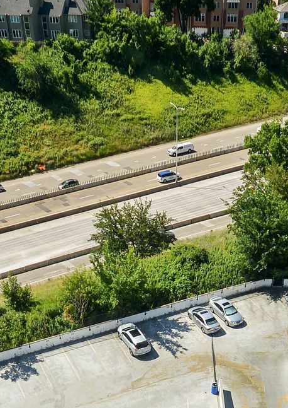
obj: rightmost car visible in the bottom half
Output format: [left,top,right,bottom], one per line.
[209,296,242,328]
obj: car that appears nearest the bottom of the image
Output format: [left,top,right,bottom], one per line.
[118,323,152,357]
